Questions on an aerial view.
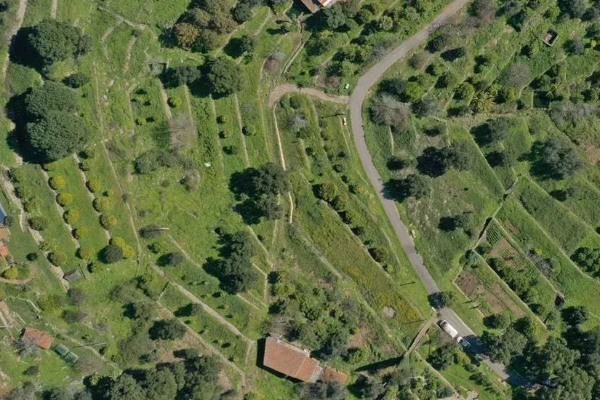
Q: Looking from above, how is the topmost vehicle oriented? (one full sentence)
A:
I'd say the topmost vehicle is aligned on a diagonal in the picture.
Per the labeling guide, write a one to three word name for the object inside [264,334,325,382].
barn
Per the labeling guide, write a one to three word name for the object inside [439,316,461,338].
vehicle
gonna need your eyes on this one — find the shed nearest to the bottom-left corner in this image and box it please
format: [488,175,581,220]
[22,326,59,350]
